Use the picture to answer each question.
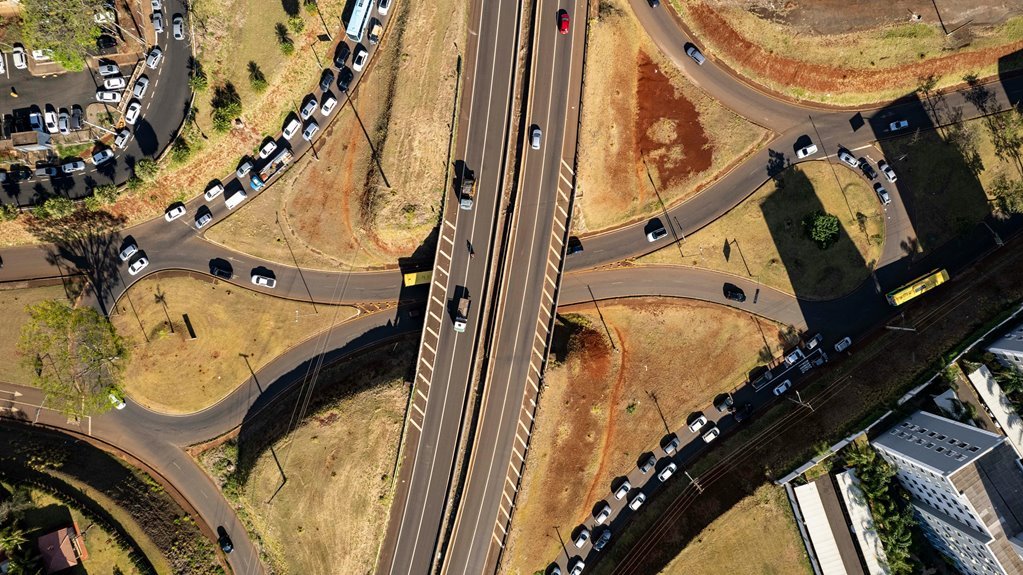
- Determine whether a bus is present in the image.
Yes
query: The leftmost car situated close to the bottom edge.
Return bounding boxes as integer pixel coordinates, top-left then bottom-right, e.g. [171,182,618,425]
[220,532,235,554]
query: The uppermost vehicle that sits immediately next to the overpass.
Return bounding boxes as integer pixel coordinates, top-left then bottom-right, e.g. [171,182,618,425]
[459,172,477,211]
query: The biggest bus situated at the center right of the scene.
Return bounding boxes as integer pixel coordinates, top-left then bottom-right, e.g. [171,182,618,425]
[878,268,949,308]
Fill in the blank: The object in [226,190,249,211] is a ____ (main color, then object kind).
white vehicle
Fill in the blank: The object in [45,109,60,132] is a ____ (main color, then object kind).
white car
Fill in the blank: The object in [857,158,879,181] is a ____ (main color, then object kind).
black truck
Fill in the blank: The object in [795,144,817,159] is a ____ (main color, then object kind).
white car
